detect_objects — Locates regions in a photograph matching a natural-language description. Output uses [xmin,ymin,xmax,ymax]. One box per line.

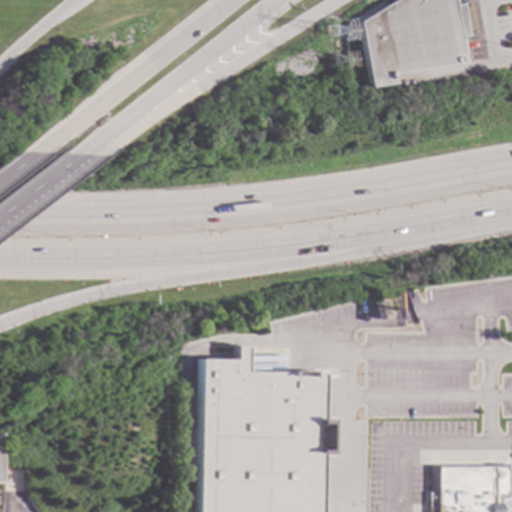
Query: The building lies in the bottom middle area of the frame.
[196,344,344,512]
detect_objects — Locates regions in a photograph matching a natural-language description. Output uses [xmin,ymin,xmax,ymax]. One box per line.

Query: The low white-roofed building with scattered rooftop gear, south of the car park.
[436,462,512,512]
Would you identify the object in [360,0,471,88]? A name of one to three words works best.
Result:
building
